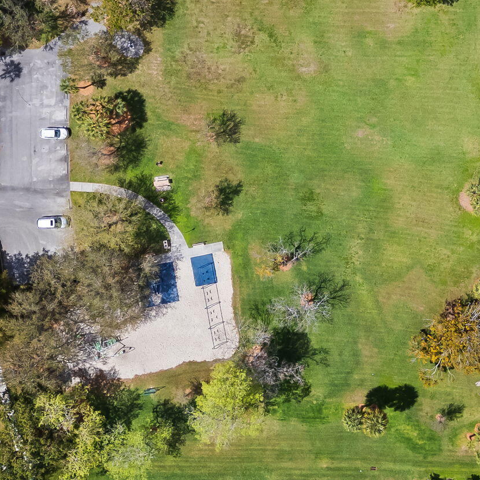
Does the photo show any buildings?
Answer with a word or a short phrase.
No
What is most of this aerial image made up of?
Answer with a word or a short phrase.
grass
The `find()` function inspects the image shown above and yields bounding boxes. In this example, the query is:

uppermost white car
[39,127,69,141]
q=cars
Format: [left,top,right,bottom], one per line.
[39,127,69,141]
[36,216,68,230]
